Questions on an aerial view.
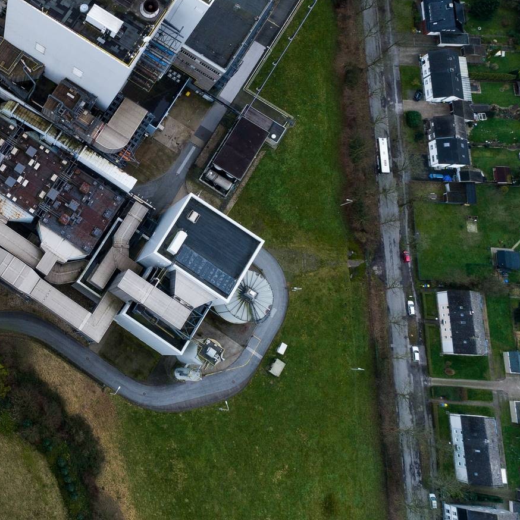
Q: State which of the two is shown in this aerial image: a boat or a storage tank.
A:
storage tank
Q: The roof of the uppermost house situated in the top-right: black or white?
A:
black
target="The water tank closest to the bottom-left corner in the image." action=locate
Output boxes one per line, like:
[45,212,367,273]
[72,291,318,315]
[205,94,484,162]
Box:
[171,364,199,384]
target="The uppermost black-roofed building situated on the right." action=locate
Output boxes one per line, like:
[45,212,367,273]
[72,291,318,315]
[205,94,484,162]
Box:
[415,0,464,38]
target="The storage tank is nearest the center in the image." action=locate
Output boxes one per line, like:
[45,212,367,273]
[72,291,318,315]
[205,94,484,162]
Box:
[216,269,276,324]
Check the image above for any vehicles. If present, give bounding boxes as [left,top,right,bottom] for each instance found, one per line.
[412,346,422,363]
[403,250,412,263]
[414,88,423,102]
[407,300,416,316]
[430,493,440,510]
[377,135,394,173]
